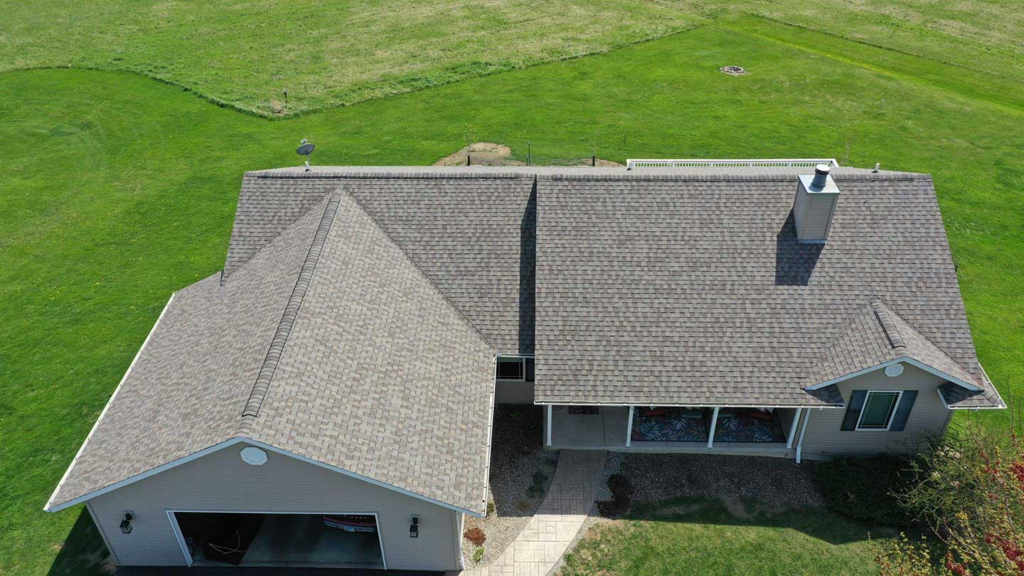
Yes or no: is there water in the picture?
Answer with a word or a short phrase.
No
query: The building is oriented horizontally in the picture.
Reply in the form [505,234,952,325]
[40,163,1014,576]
